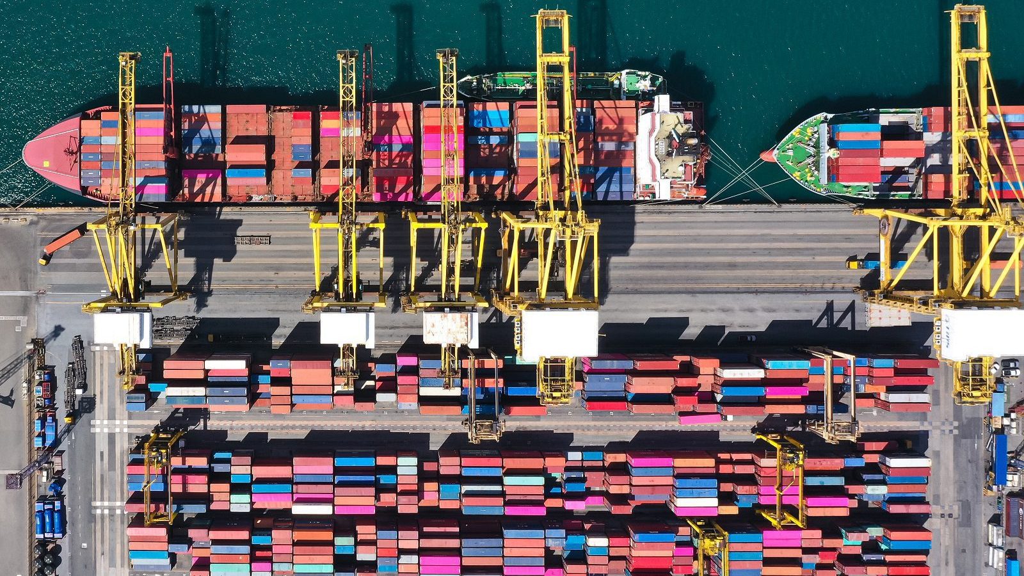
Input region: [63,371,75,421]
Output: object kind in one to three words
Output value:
vehicle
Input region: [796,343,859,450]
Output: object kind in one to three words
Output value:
container crane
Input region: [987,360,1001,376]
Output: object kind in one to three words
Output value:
car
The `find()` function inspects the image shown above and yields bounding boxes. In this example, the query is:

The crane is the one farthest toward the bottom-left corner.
[143,428,186,525]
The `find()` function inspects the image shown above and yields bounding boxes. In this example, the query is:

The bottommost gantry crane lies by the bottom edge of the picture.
[678,514,726,576]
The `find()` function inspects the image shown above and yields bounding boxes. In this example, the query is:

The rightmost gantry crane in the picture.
[853,2,1024,417]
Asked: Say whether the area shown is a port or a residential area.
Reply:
port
